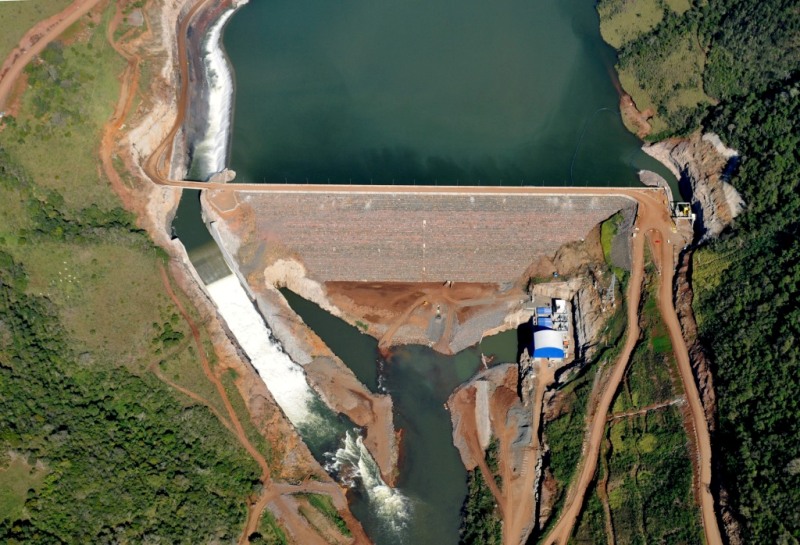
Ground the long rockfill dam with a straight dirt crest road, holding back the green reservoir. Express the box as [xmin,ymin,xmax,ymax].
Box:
[206,183,668,283]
